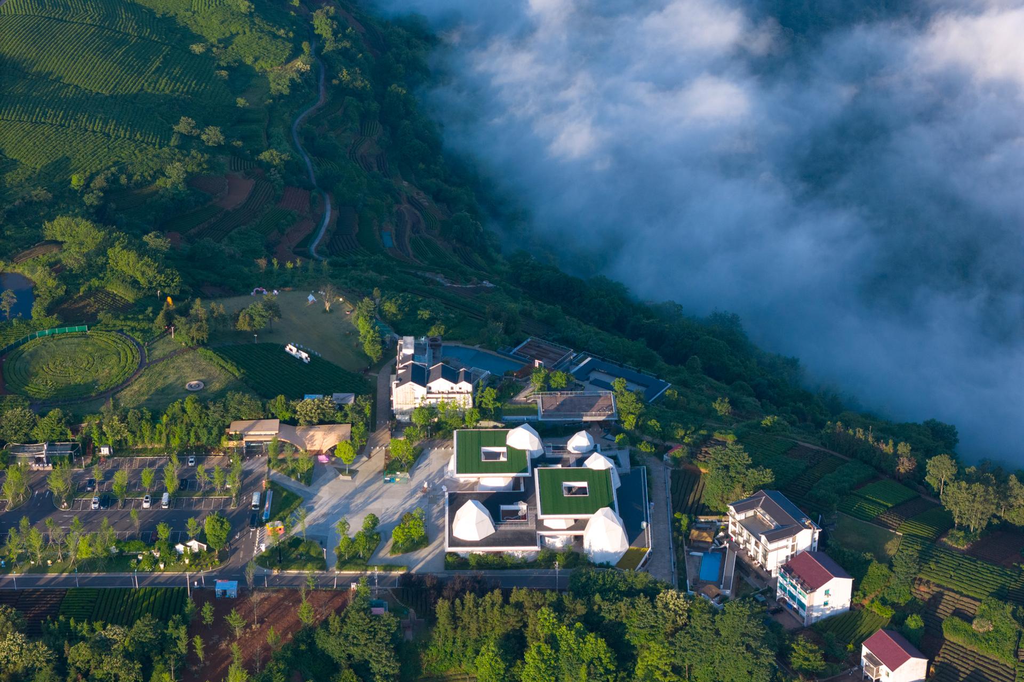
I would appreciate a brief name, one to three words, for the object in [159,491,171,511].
vehicle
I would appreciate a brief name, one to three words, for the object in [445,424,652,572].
building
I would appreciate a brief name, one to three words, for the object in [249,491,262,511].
vehicle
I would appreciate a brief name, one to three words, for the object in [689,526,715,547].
gazebo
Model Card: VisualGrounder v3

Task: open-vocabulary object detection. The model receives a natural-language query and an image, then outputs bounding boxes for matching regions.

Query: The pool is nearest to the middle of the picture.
[442,346,524,375]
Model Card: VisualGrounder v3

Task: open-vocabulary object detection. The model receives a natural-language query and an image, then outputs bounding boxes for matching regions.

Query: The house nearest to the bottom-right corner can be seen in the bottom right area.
[851,626,926,682]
